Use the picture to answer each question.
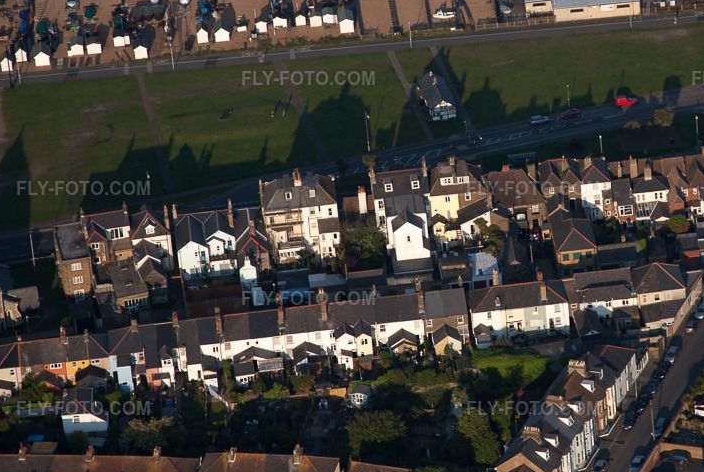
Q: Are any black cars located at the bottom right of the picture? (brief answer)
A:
Yes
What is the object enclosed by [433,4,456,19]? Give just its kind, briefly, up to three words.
boat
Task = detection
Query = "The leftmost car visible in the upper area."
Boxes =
[528,114,551,126]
